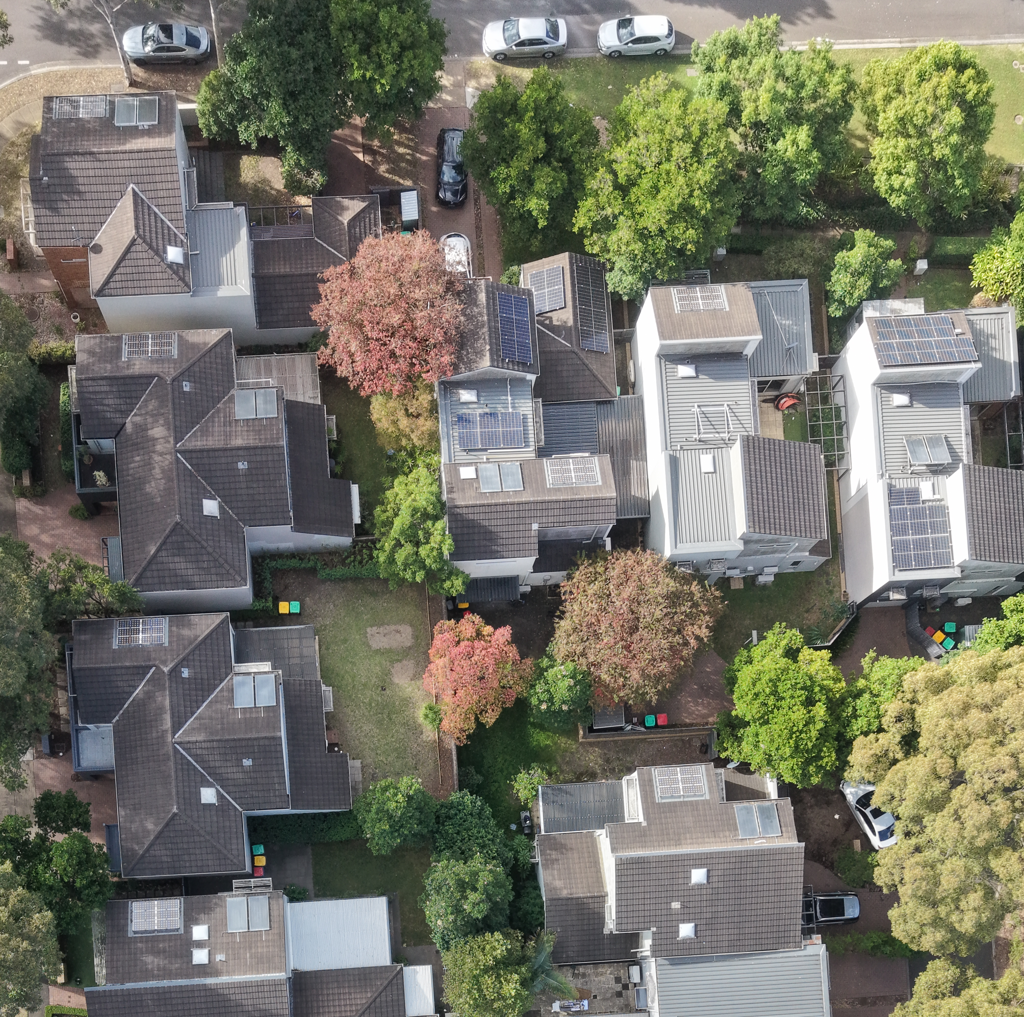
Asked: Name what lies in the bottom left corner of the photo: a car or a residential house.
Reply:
residential house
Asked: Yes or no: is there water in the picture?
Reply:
No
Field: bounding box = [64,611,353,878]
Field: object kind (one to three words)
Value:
house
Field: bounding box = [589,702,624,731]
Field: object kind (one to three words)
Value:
shed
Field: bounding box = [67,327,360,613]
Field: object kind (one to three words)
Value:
house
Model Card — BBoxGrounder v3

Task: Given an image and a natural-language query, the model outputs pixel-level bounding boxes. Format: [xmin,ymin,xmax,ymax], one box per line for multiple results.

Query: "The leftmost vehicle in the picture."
[120,17,208,65]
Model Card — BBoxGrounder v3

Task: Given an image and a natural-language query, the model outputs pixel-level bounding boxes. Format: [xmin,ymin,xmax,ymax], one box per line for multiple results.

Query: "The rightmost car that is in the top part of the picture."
[600,7,680,54]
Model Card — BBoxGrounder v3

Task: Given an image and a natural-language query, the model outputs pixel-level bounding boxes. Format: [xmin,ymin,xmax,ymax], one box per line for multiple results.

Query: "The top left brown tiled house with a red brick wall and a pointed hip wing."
[20,89,384,349]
